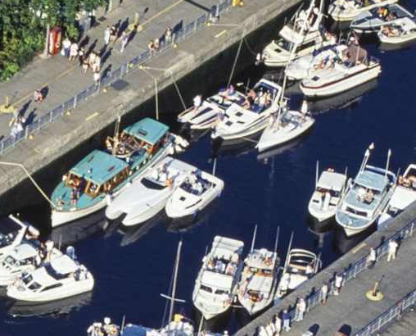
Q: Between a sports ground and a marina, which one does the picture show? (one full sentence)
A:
It's a marina.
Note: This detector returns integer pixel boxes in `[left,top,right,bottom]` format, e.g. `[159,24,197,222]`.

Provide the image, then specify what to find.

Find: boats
[0,244,55,286]
[351,6,416,36]
[300,29,390,97]
[240,220,292,320]
[276,237,331,303]
[261,0,342,72]
[341,133,404,243]
[167,175,235,223]
[377,155,416,230]
[6,257,103,305]
[178,90,246,126]
[328,0,403,24]
[285,42,353,83]
[90,316,120,336]
[211,82,293,143]
[255,42,319,154]
[192,232,252,325]
[110,159,204,226]
[378,23,416,46]
[158,265,200,336]
[0,214,52,255]
[125,318,161,336]
[310,161,348,227]
[52,123,190,225]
